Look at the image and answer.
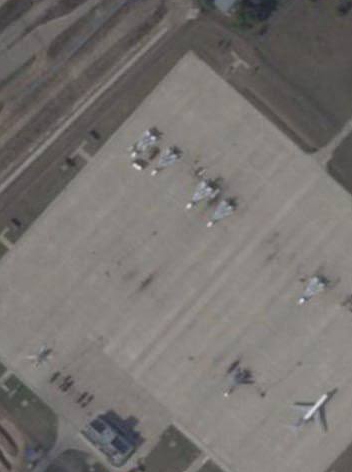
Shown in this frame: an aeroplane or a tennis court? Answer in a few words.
aeroplane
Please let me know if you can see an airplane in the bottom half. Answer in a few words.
Yes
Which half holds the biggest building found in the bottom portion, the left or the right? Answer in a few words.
left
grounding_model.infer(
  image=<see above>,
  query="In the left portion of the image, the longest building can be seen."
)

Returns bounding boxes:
[84,415,135,465]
